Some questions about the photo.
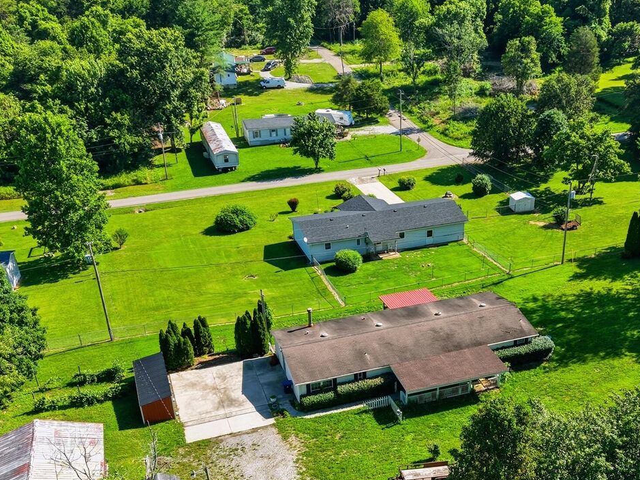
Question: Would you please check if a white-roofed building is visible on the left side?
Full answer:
Yes, a white-roofed building appears on the left side.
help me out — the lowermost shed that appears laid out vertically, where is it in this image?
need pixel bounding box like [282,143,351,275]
[134,352,176,426]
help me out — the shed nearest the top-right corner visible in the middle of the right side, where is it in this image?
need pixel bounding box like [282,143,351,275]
[504,187,535,213]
